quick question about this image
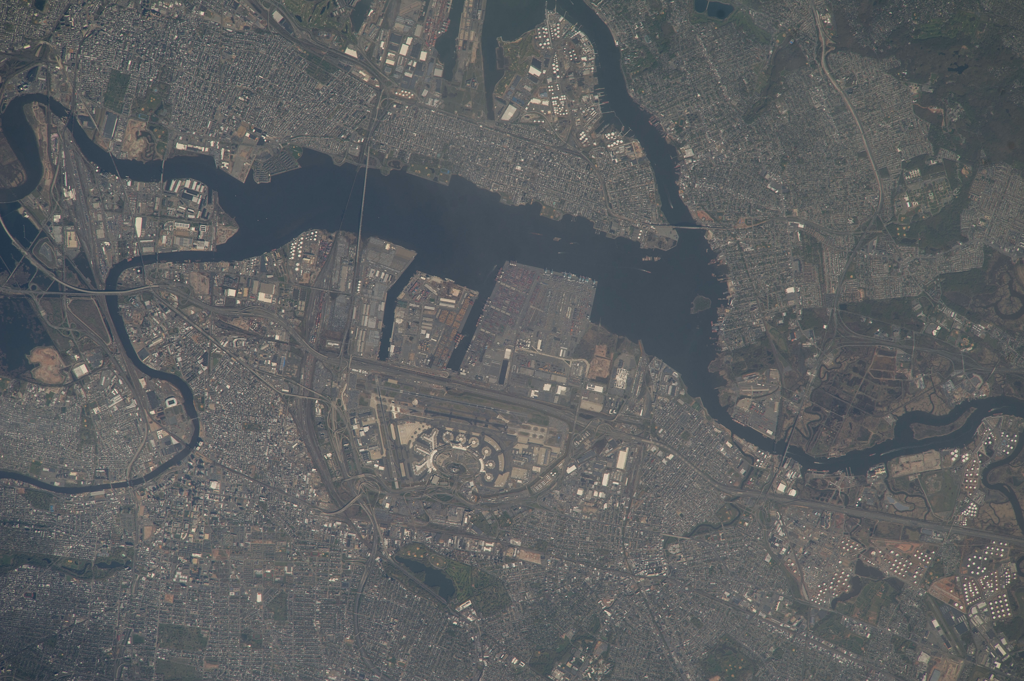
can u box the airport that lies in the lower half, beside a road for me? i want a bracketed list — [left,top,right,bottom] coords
[349,372,569,493]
